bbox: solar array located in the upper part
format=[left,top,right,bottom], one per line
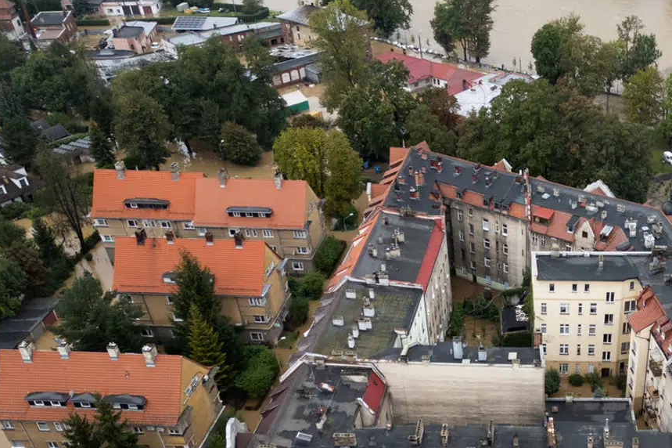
[174,18,207,30]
